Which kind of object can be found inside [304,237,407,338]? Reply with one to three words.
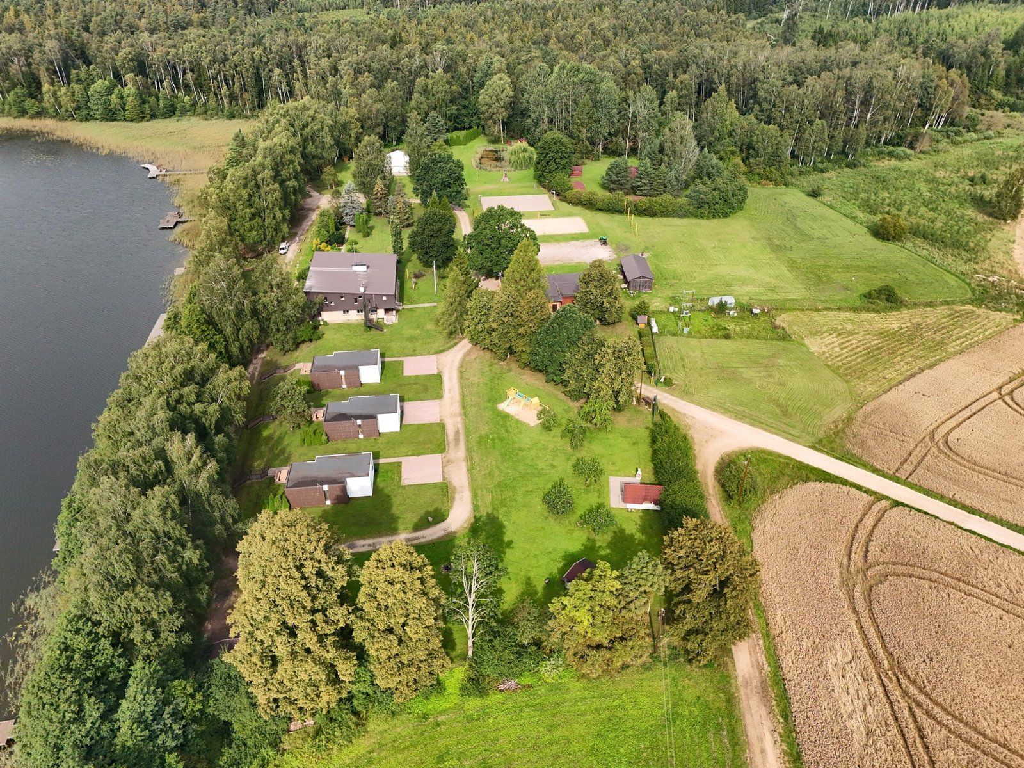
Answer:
house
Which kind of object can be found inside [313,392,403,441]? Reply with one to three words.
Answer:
building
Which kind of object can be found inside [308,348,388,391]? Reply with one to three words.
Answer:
building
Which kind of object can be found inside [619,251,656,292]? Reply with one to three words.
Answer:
barn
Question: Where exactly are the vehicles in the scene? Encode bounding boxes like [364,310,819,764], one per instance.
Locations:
[598,231,608,246]
[277,237,290,251]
